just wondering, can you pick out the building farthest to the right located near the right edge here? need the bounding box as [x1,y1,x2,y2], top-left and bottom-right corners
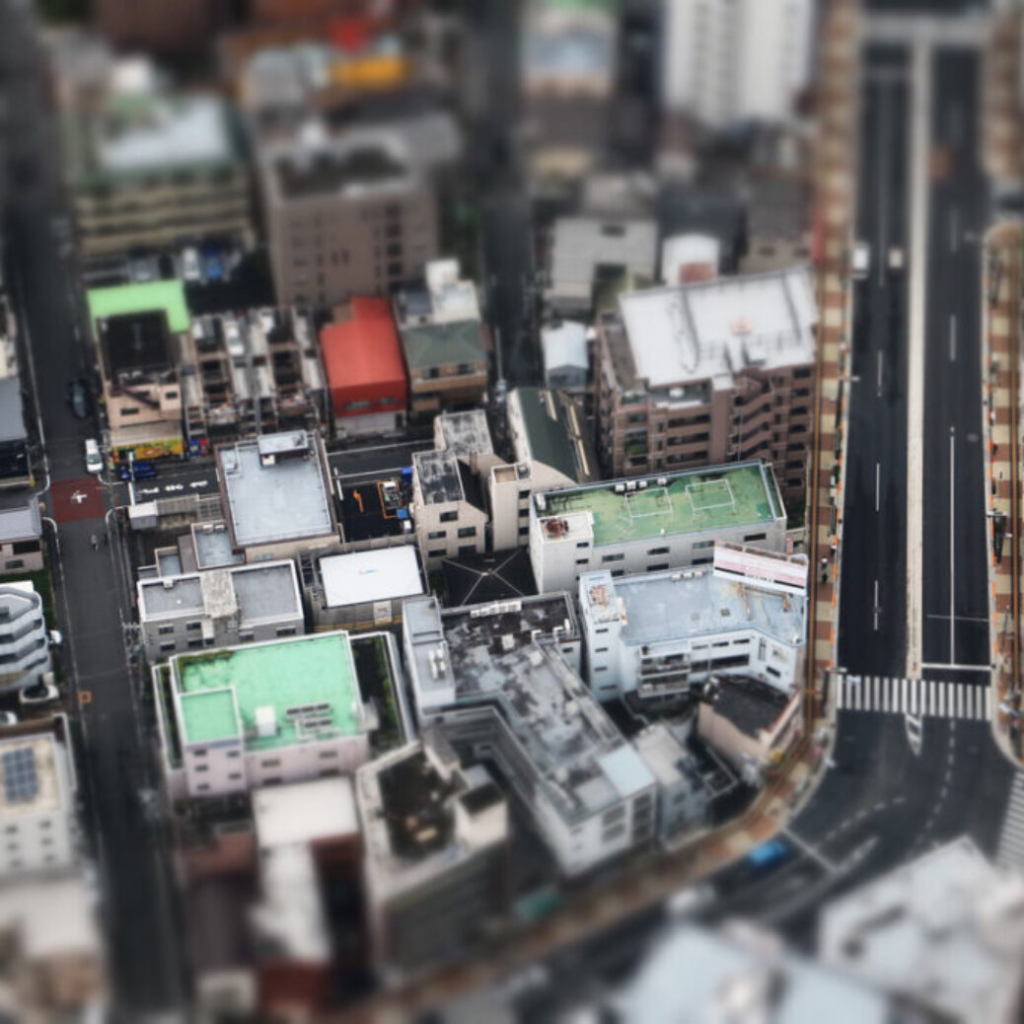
[816,836,1024,1024]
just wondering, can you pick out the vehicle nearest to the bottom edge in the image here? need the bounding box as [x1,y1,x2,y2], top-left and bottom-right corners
[664,884,716,921]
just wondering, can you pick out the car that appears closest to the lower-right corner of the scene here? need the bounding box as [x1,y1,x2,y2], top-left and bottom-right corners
[743,840,787,872]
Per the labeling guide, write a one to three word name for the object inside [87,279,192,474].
building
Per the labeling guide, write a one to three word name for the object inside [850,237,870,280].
vehicle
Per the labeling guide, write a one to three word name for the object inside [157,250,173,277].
car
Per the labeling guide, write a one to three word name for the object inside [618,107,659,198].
house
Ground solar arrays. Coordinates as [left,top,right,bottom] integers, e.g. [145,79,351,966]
[2,749,38,804]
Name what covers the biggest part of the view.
buildings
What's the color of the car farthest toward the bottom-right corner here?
blue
